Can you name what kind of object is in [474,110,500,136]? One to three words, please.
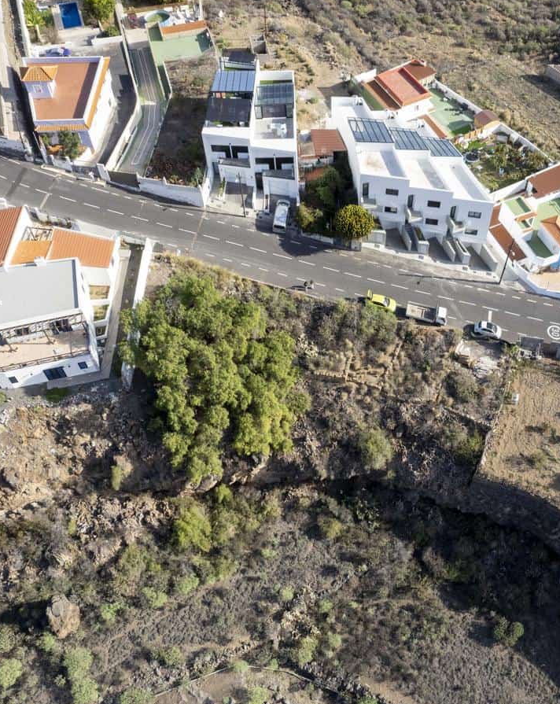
shed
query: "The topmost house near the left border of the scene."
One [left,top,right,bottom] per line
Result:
[23,56,117,159]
